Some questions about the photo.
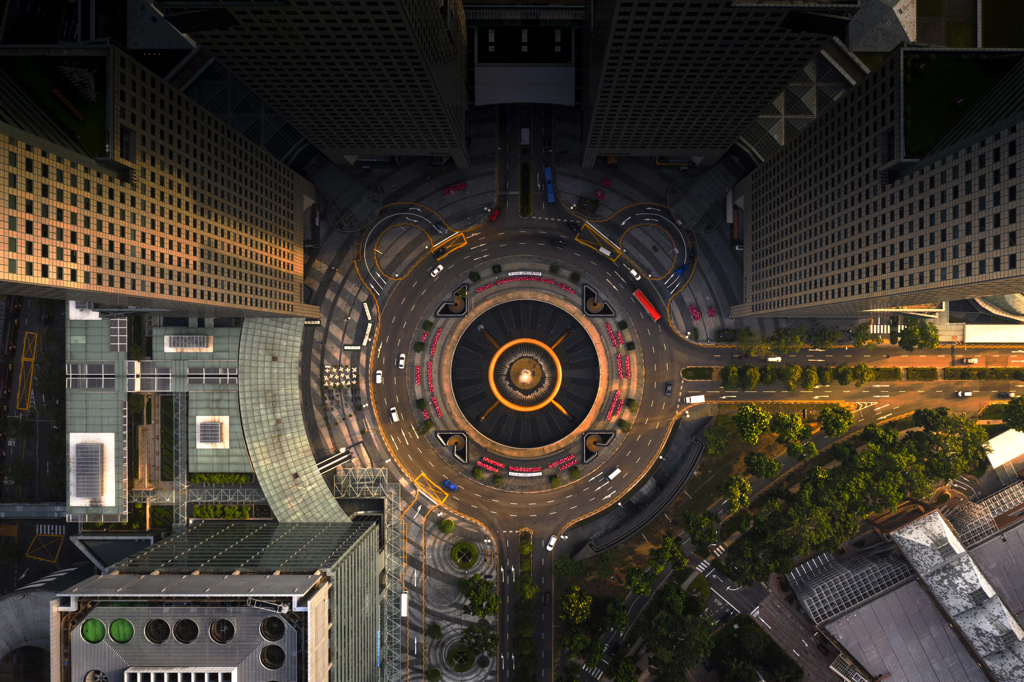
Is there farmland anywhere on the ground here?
No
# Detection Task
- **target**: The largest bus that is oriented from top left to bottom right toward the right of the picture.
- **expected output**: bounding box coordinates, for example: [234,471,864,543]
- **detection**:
[632,288,661,322]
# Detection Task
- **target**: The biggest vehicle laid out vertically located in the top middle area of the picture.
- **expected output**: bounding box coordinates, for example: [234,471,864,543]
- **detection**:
[544,165,557,206]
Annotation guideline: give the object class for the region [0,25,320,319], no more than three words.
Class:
building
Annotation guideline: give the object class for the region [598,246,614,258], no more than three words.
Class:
vehicle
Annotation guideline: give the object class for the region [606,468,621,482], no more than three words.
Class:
car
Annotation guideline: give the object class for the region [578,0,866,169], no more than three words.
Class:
building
